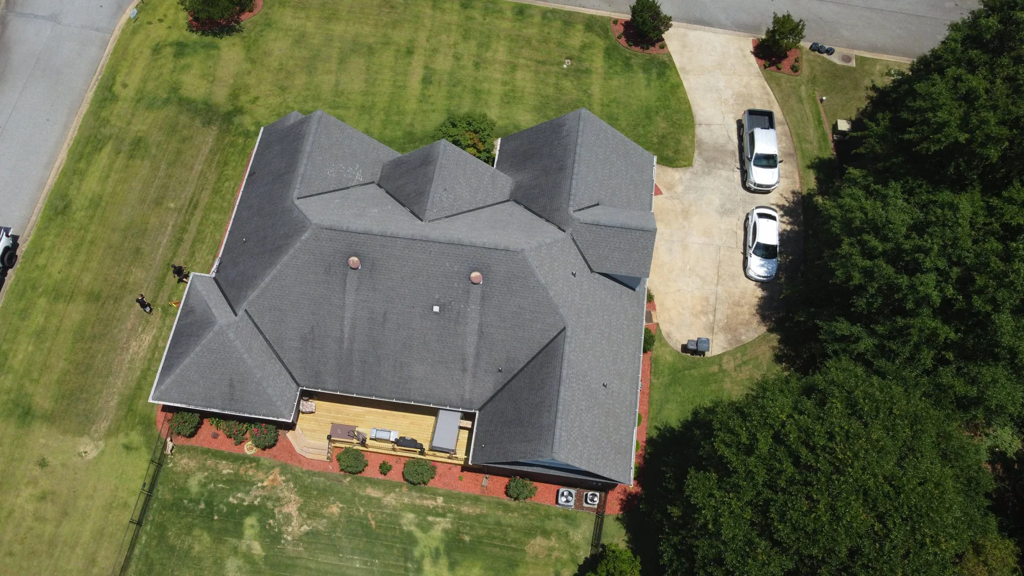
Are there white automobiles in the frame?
Yes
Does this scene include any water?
No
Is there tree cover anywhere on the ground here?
Yes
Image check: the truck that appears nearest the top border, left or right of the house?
to its right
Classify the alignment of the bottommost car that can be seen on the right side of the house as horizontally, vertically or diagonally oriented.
vertically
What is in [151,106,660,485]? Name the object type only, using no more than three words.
house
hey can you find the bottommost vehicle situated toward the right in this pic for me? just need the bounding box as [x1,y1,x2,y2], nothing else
[742,205,783,286]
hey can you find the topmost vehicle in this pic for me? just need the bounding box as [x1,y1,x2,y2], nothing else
[740,109,784,195]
